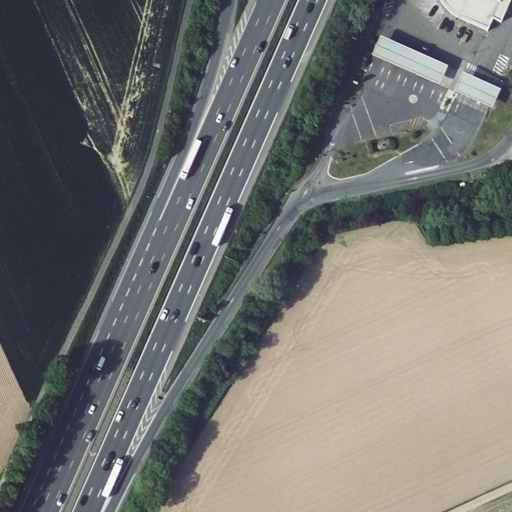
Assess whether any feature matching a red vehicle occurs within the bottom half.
No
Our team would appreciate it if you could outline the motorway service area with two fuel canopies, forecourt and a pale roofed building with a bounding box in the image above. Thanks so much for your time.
[318,0,512,180]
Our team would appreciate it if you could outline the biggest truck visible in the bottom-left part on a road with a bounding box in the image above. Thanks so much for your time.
[102,458,124,498]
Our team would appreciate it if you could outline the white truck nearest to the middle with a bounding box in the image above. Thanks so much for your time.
[211,207,234,246]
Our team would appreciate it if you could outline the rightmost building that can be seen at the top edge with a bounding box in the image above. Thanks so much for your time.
[440,0,511,30]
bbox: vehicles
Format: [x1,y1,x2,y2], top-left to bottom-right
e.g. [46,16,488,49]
[439,18,448,29]
[96,356,106,371]
[283,56,291,68]
[429,5,438,16]
[445,20,454,32]
[172,309,179,320]
[457,26,466,38]
[86,431,94,442]
[132,398,140,409]
[88,404,96,415]
[258,41,266,52]
[116,411,123,422]
[80,494,88,506]
[57,495,65,506]
[191,242,199,254]
[150,262,158,274]
[180,138,202,180]
[104,459,112,471]
[462,30,472,42]
[230,57,238,68]
[216,112,224,123]
[306,2,314,14]
[211,207,234,246]
[160,310,168,320]
[224,120,231,130]
[102,458,124,498]
[284,24,295,40]
[194,256,202,268]
[186,198,194,209]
